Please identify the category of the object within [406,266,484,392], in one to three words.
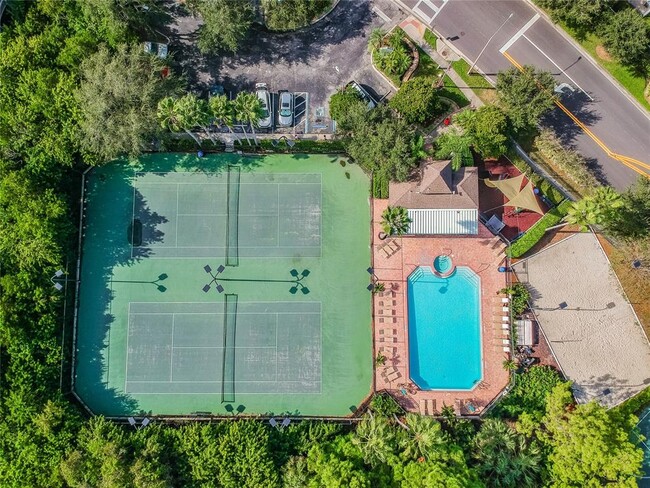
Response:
swimming pool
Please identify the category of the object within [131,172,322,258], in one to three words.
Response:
tennis court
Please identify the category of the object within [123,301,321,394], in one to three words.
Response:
tennis court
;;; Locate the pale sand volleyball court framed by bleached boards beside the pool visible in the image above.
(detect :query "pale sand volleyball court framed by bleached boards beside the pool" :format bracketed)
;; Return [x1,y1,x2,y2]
[512,230,650,419]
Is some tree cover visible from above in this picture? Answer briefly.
Yes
